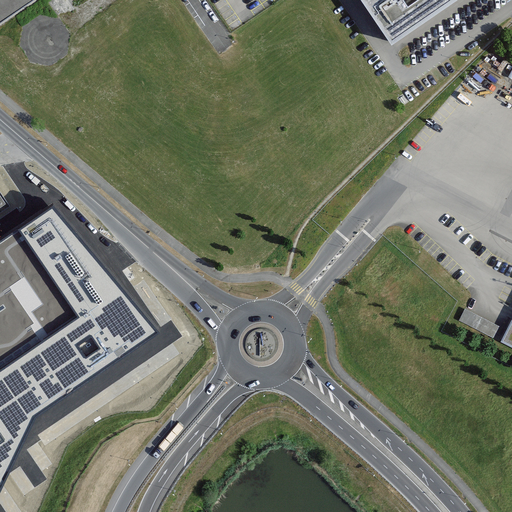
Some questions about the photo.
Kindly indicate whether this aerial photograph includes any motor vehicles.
Yes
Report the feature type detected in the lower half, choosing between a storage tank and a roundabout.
roundabout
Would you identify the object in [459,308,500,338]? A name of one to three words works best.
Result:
shed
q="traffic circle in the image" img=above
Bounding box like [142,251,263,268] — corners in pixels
[216,300,307,390]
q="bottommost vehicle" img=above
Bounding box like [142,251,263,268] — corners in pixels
[155,424,183,456]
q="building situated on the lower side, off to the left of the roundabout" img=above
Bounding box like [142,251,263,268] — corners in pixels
[0,204,160,488]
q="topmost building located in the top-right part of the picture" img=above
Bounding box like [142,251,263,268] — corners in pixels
[359,0,460,46]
